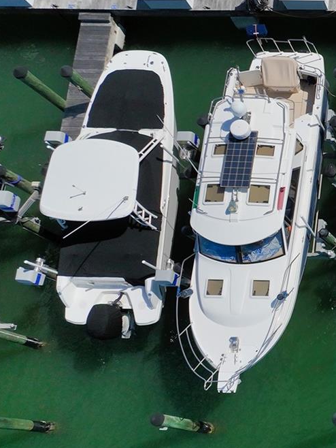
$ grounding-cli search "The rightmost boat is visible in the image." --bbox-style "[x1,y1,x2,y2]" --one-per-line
[177,24,334,393]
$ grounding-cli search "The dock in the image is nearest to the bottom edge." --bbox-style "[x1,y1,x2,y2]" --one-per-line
[64,10,127,140]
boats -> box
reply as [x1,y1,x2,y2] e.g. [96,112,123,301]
[40,50,202,341]
[177,24,334,393]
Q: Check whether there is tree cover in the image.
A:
No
